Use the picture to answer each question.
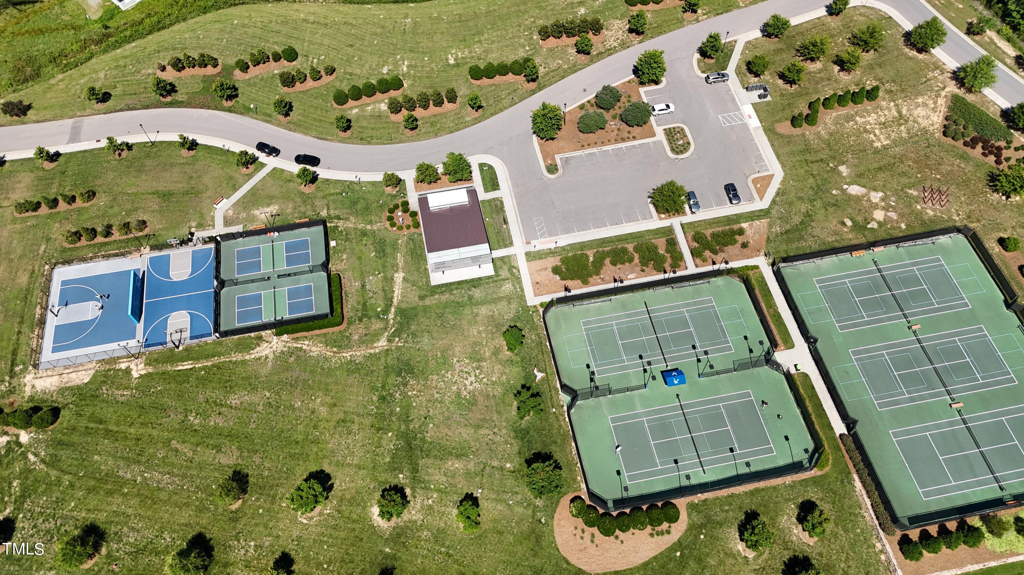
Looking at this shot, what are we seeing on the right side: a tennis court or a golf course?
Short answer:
tennis court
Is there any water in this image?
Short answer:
No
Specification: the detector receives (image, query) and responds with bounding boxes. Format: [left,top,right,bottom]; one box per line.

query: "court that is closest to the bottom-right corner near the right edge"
[861,405,1024,517]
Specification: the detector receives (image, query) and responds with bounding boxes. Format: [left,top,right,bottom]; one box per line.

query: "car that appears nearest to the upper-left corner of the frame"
[256,142,279,157]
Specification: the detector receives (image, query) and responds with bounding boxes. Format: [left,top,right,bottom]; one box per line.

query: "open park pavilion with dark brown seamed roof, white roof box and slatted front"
[418,185,493,273]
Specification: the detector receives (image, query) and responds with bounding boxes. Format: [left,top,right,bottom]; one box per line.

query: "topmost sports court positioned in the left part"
[220,226,326,284]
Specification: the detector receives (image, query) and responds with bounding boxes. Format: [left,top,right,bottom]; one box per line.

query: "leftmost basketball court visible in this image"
[39,257,141,370]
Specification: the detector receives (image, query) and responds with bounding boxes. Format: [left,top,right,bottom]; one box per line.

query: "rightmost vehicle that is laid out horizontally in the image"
[706,72,730,84]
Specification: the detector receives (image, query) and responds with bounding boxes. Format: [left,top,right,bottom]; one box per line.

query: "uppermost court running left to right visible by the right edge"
[781,234,1020,348]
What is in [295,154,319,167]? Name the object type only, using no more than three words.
vehicle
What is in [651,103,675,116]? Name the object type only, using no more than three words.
vehicle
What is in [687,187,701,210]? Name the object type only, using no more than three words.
car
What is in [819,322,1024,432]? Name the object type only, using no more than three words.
tennis court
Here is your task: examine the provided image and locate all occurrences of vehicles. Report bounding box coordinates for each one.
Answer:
[706,72,730,84]
[651,103,675,116]
[687,187,701,210]
[256,142,279,157]
[295,154,319,167]
[724,181,741,204]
